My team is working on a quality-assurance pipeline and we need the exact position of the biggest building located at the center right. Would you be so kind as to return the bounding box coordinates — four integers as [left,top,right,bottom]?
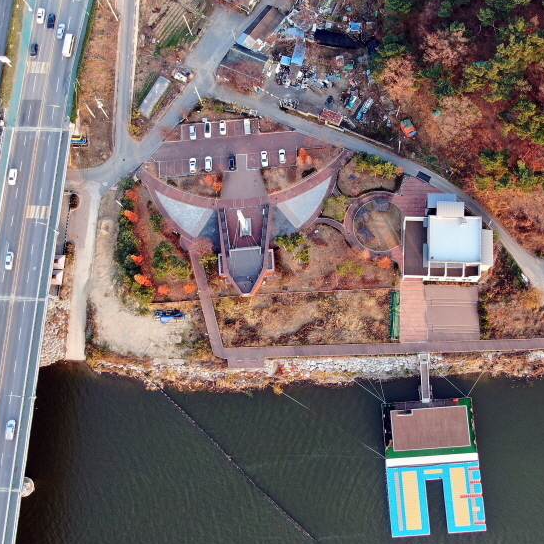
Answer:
[400,194,493,282]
